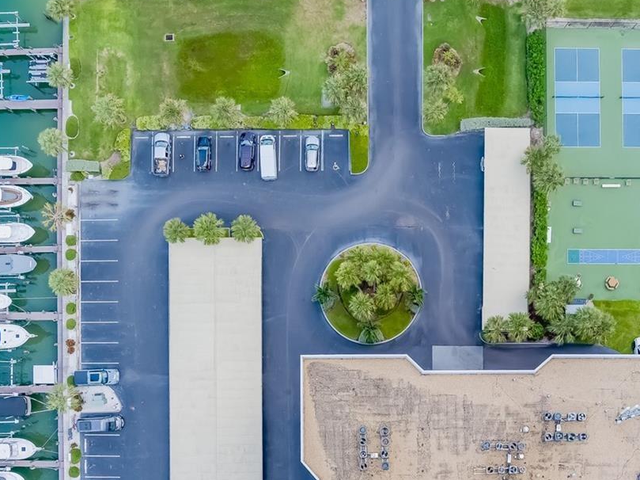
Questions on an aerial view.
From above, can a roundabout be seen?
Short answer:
Yes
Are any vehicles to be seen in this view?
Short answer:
Yes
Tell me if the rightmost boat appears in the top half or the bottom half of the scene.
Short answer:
bottom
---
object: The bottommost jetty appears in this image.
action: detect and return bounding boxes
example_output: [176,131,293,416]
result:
[0,457,63,470]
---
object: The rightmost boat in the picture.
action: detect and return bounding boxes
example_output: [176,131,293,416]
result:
[81,386,121,413]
